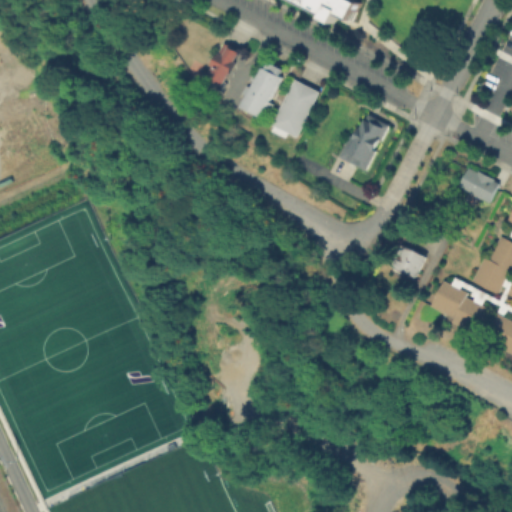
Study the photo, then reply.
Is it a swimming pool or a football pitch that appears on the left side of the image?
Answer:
football pitch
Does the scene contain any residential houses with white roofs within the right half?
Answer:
Yes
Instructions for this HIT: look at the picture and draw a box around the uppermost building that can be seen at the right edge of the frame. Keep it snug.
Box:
[460,167,502,203]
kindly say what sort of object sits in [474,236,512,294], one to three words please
building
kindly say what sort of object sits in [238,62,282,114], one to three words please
house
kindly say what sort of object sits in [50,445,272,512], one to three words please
soccer field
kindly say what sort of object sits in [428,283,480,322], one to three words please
house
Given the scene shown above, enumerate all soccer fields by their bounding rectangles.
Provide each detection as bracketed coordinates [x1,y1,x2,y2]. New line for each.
[50,445,272,512]
[0,204,194,497]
